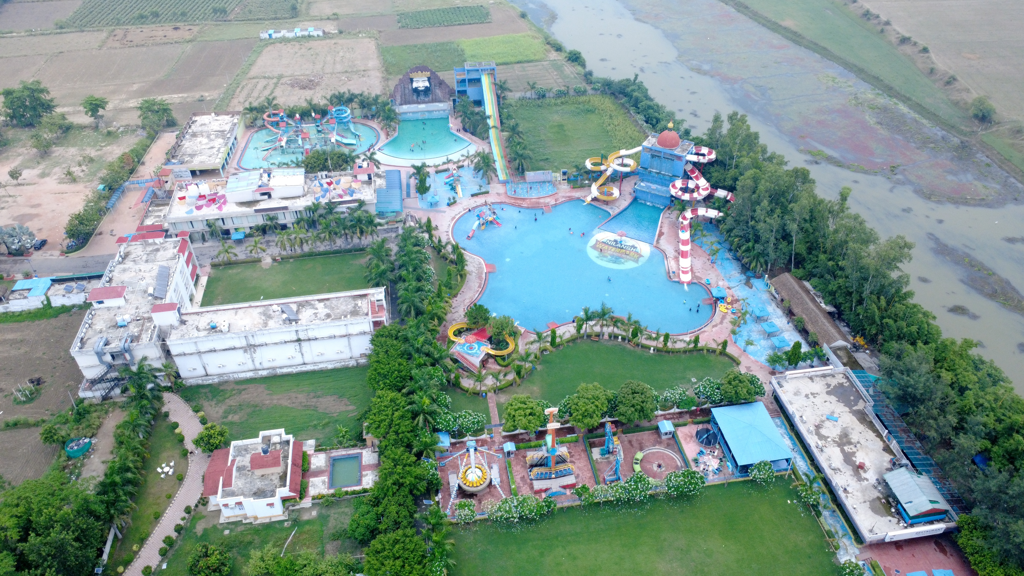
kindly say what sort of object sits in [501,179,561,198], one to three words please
swimming pool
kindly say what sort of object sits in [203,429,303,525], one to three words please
house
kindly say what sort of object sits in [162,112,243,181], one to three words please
building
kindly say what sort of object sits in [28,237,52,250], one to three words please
vehicle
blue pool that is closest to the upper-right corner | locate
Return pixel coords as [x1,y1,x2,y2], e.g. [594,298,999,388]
[595,195,673,245]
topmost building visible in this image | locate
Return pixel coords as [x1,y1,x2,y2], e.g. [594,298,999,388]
[260,27,326,41]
